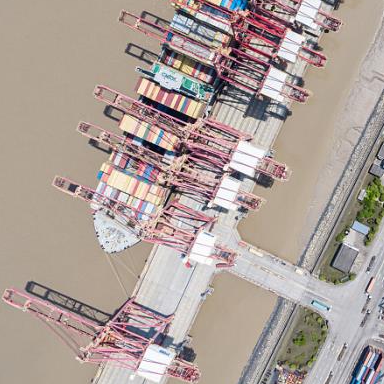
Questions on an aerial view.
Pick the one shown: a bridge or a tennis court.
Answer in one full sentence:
Of the two, only a bridge appears.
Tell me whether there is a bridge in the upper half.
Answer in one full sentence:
No, no bridge appears in the upper half.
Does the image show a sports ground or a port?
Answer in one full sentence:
It's a port.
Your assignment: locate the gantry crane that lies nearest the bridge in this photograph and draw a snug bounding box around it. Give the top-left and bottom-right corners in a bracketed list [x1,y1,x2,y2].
[53,171,245,268]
